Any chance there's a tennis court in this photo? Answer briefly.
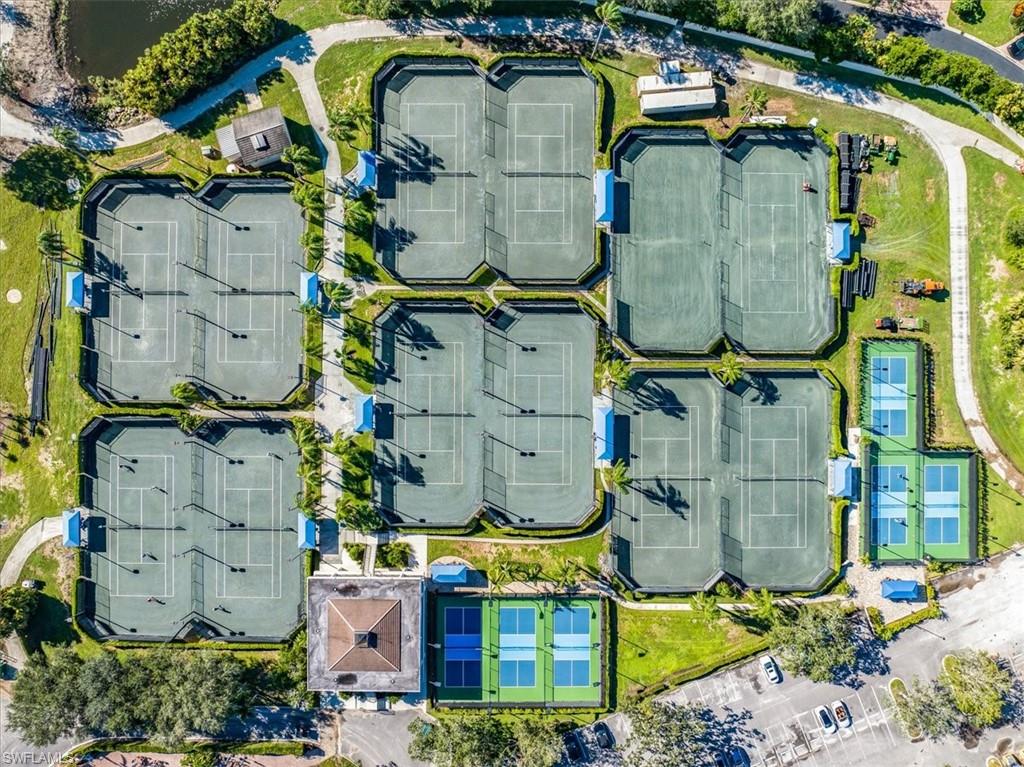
Yes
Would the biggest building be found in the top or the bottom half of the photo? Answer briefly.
bottom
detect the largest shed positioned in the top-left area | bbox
[231,105,295,165]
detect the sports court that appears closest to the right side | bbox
[919,452,969,558]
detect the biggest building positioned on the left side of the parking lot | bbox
[307,565,425,700]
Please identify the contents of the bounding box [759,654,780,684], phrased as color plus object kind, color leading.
white car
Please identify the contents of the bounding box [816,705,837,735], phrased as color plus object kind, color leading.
white car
